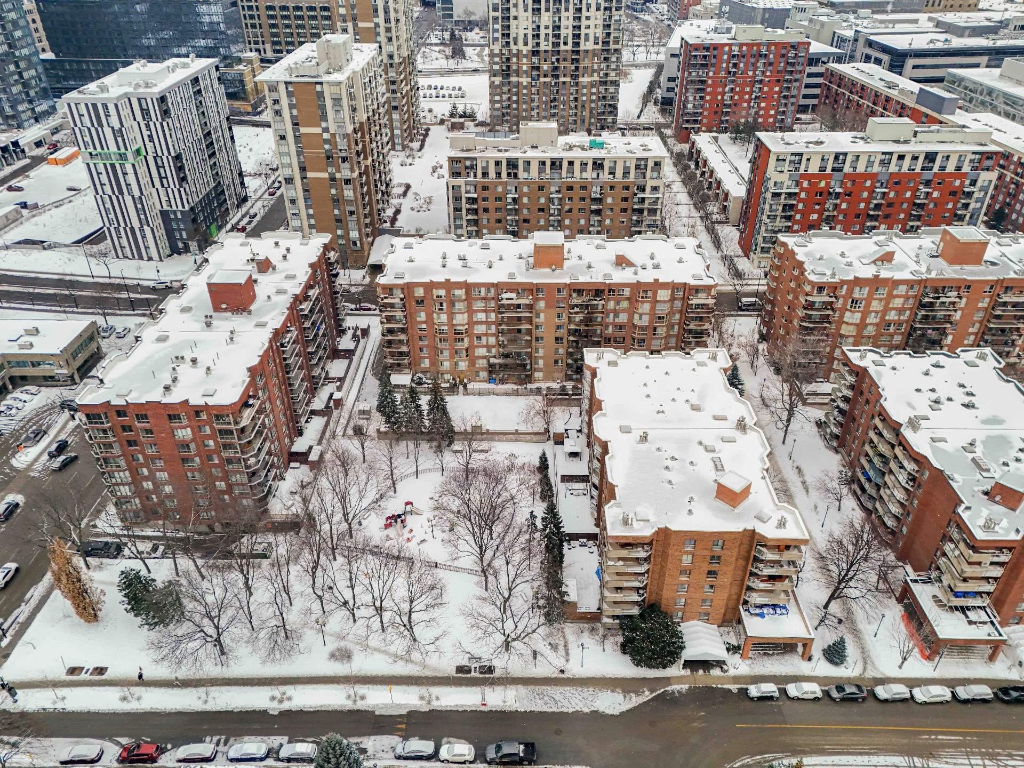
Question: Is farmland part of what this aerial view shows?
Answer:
No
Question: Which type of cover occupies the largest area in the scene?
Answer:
buildings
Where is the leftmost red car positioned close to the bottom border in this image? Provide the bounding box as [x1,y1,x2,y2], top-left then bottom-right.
[115,742,160,765]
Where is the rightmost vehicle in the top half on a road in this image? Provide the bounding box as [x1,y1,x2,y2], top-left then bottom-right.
[737,296,762,308]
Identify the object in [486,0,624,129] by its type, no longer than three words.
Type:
building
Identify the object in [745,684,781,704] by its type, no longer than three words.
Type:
car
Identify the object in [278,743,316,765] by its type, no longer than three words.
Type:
car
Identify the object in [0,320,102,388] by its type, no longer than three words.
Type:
building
